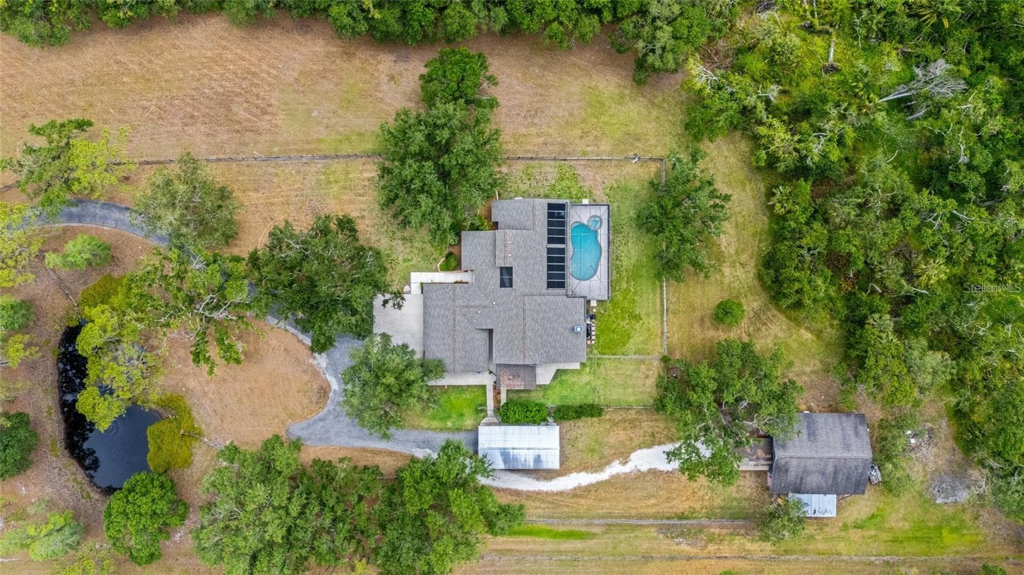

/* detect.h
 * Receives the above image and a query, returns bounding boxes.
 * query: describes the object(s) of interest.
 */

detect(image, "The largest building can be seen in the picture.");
[423,198,587,389]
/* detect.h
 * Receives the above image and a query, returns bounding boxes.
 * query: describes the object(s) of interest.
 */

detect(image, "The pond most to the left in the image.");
[60,319,172,490]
